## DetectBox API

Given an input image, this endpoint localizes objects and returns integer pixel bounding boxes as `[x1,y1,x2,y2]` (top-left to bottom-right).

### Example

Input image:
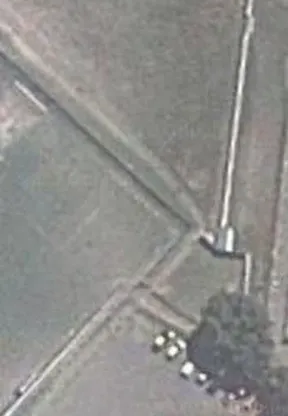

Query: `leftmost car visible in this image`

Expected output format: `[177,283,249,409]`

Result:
[154,330,177,347]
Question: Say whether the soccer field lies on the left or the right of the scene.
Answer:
left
